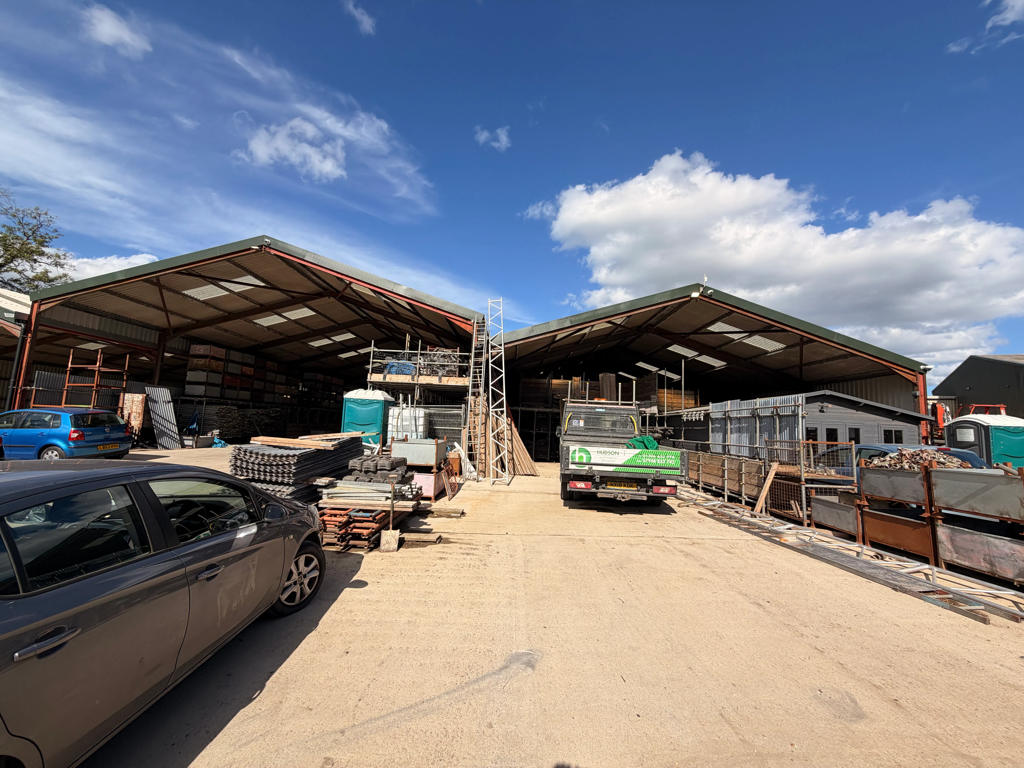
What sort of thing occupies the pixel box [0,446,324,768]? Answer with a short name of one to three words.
car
